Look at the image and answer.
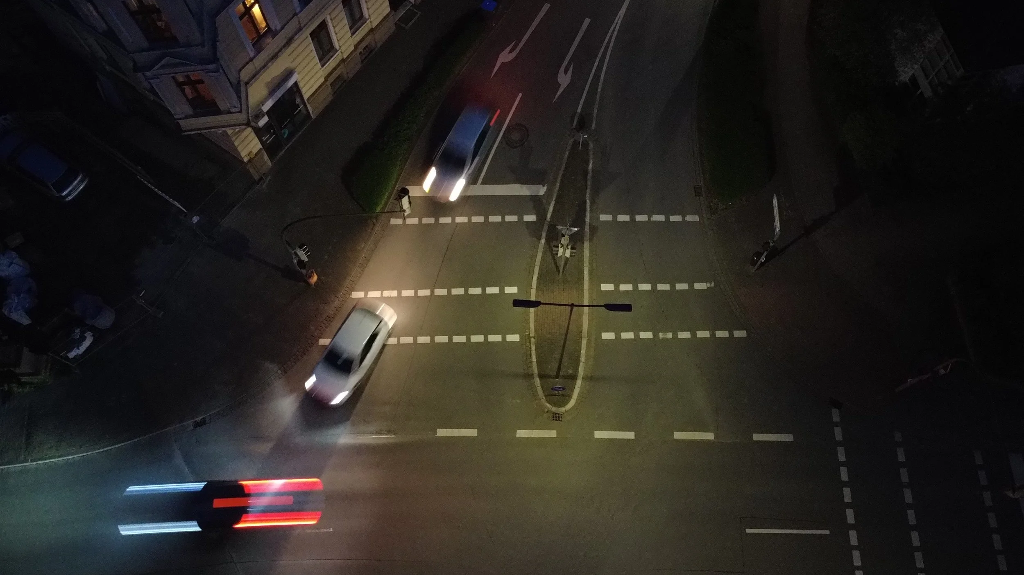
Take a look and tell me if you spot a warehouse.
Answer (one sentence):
No, I find no warehouse anywhere in the image.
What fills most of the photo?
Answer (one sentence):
The bulk of the photo consists of paved ground.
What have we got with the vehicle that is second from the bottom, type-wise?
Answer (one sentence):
The vehicle that is second from the bottom in the image is an automobile.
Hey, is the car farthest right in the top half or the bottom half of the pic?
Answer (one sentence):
It is in the top half that the car farthest right appears.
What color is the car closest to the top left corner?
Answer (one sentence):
The car closest to the top left corner is black.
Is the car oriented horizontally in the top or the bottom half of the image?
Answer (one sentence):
The bottom half of the photo is where the car oriented horizontally is.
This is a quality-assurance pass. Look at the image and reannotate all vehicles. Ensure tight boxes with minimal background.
[425,109,494,200]
[304,296,401,408]
[148,473,289,539]
[0,126,93,203]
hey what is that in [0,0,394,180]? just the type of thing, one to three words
house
